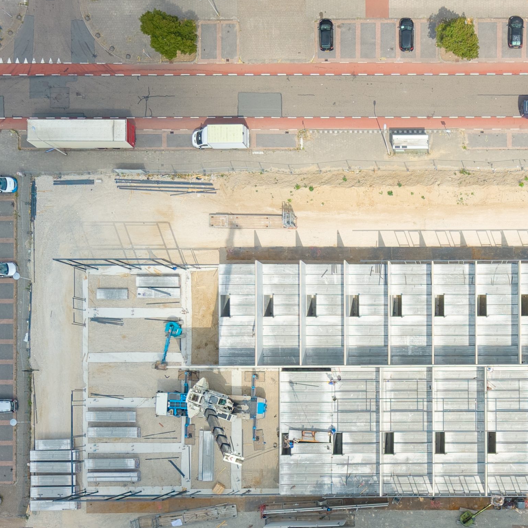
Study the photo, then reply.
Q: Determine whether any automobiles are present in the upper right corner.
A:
Yes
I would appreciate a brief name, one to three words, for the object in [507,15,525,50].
car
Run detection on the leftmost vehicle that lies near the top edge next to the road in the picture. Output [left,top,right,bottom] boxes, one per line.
[317,17,335,52]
